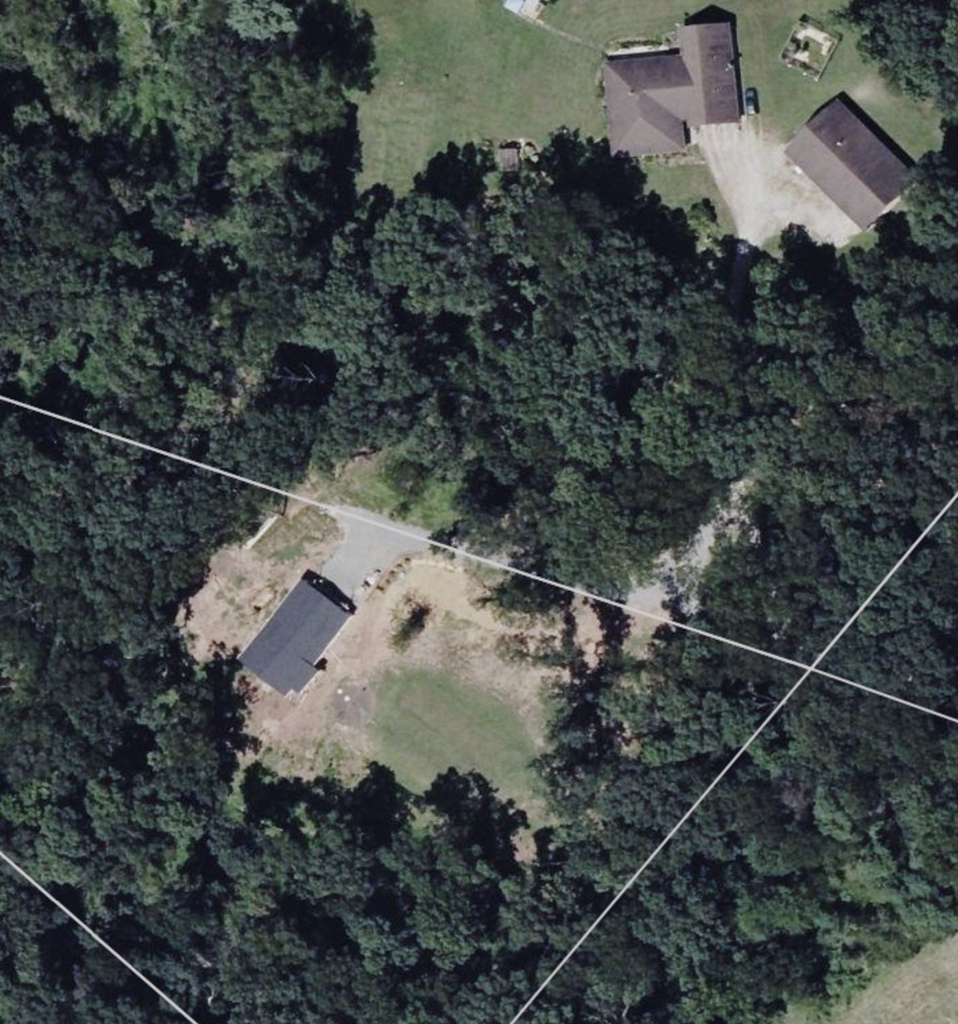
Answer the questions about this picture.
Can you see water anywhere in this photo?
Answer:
No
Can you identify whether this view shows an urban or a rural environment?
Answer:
rural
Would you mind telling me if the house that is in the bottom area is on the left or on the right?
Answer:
left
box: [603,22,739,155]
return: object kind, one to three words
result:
house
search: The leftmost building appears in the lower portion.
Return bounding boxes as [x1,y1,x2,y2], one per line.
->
[238,580,354,697]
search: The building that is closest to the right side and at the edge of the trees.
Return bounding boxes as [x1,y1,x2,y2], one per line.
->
[785,99,916,230]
